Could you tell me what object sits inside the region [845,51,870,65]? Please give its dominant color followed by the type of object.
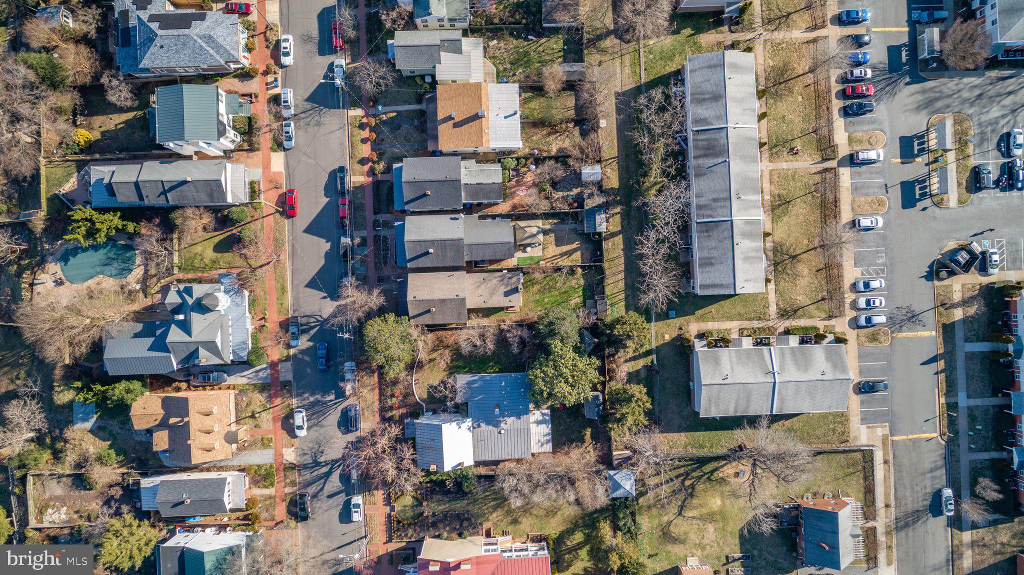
blue car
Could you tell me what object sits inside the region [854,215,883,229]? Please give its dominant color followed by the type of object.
white car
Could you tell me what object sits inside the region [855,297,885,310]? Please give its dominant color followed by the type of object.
white vehicle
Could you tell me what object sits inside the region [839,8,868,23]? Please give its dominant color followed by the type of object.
blue car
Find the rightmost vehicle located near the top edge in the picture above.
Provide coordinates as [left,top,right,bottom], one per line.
[916,10,950,24]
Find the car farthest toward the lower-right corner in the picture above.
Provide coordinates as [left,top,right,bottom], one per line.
[939,486,955,516]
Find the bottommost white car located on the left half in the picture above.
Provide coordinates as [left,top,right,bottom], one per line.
[349,494,363,522]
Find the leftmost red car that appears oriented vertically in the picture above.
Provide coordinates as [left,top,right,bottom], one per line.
[285,188,299,217]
